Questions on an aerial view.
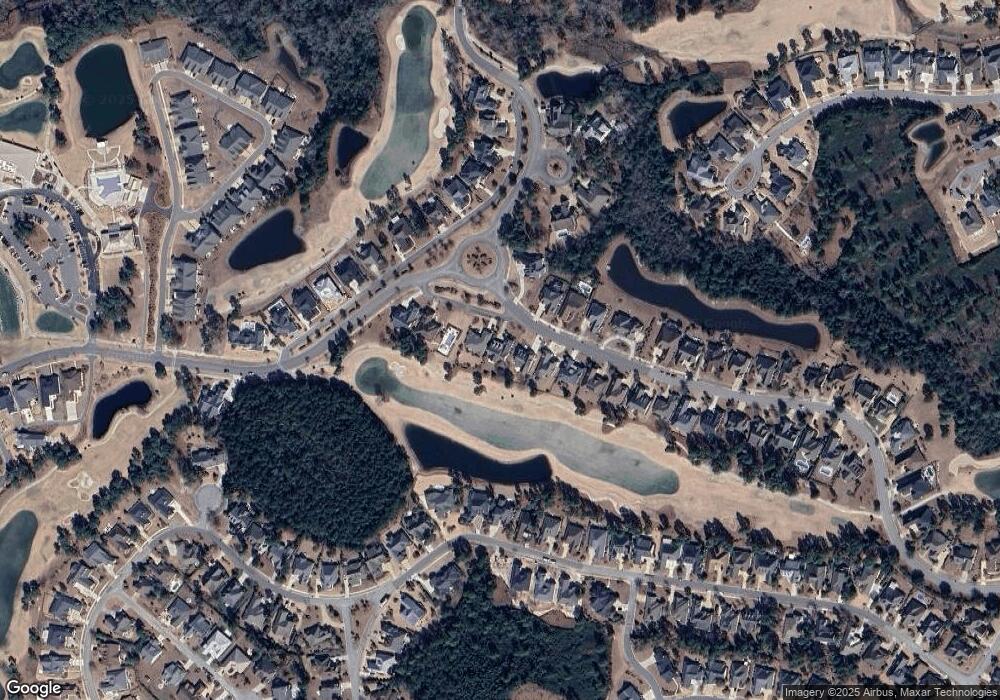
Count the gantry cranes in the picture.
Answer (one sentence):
There are no gantry cranes in this view.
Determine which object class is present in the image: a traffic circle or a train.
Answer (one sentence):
Looking from above, you can make out a traffic circle.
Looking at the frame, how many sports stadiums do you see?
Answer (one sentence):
Not a single sports stadium can be seen.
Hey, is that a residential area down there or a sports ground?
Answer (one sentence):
The picture captures a residential area.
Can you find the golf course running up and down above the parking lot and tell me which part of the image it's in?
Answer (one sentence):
The golf course running up and down above the parking lot sits in the top left section of the image.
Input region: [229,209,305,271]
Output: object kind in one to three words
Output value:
pond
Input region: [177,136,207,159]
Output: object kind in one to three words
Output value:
house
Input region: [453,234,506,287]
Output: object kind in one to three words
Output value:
roundabout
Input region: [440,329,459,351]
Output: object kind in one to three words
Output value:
swimming pool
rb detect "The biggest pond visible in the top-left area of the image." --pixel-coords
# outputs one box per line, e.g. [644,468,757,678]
[75,44,140,138]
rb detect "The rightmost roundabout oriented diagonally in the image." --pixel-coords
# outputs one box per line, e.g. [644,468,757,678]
[950,158,1000,197]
